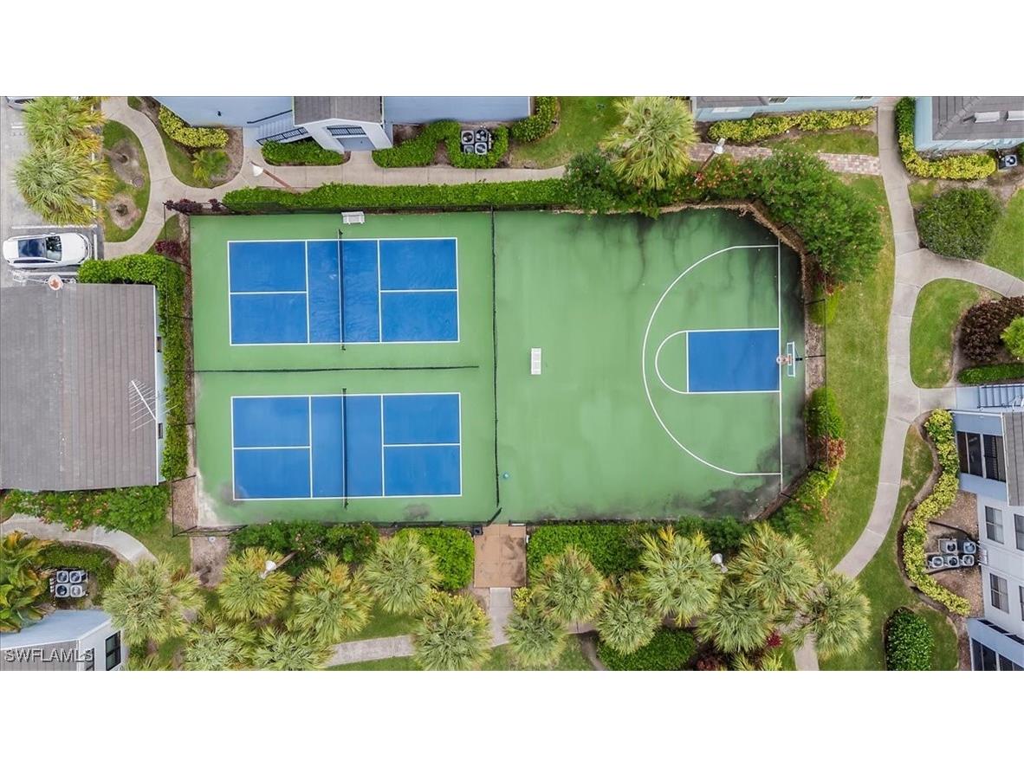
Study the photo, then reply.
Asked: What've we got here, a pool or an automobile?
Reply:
automobile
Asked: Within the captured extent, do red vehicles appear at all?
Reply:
No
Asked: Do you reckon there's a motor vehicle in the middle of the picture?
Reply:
No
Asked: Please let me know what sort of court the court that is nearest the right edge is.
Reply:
basketball court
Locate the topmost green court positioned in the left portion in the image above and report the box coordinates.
[189,210,495,370]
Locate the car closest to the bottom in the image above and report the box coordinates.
[6,228,93,269]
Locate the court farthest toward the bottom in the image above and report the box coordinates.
[193,368,498,527]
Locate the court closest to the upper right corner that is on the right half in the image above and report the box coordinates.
[494,206,808,523]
